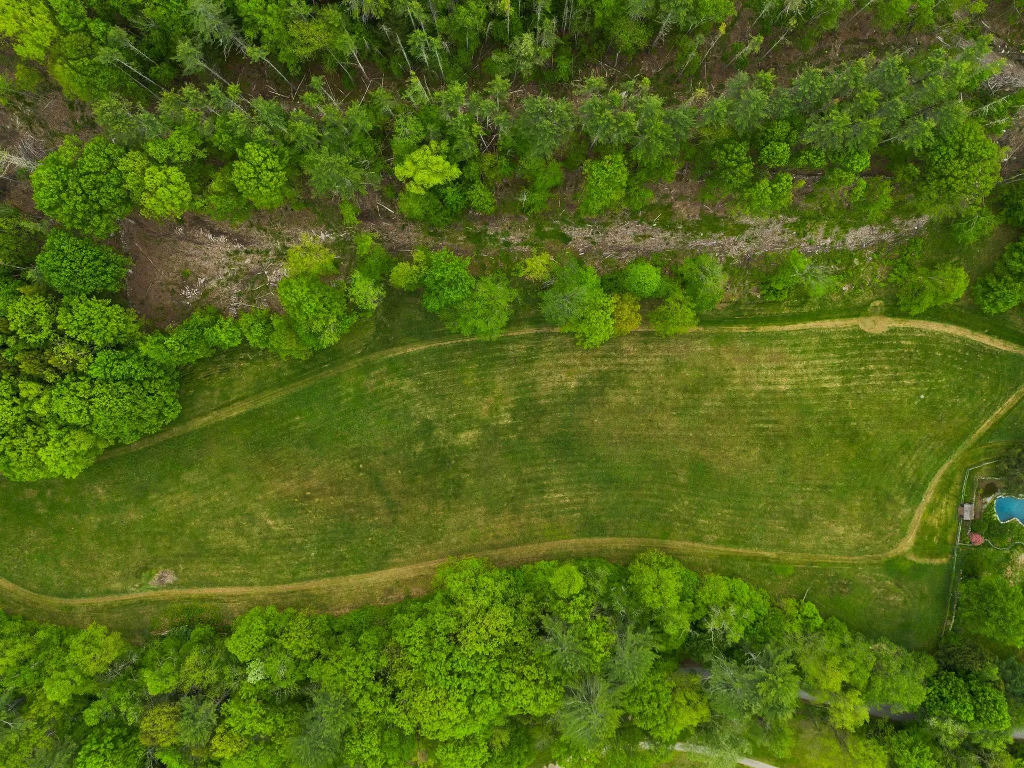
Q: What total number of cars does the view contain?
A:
zero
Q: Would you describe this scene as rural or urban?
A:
rural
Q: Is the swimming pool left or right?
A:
right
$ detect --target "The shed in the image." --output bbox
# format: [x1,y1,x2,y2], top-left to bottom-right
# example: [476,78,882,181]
[958,505,979,523]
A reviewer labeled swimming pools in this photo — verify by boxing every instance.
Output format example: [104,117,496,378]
[994,495,1024,526]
